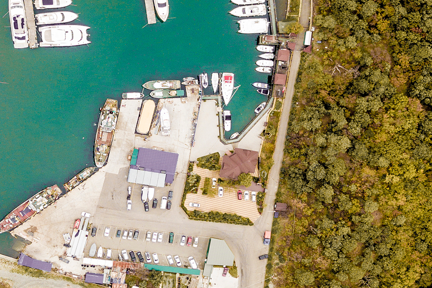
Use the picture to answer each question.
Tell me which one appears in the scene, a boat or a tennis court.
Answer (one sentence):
Of the two, only a boat appears.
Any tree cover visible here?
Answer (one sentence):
Yes, some tree cover is visible.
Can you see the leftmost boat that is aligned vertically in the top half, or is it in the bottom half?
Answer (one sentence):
It is in the top half that the leftmost boat that is aligned vertically appears.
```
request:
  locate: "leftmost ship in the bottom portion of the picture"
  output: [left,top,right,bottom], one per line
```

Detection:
[0,185,61,230]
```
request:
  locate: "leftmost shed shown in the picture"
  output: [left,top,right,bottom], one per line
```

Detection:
[19,253,52,272]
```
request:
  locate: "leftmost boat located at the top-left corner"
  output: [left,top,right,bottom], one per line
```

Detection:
[9,0,29,51]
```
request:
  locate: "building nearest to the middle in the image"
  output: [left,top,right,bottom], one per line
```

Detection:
[220,148,259,178]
